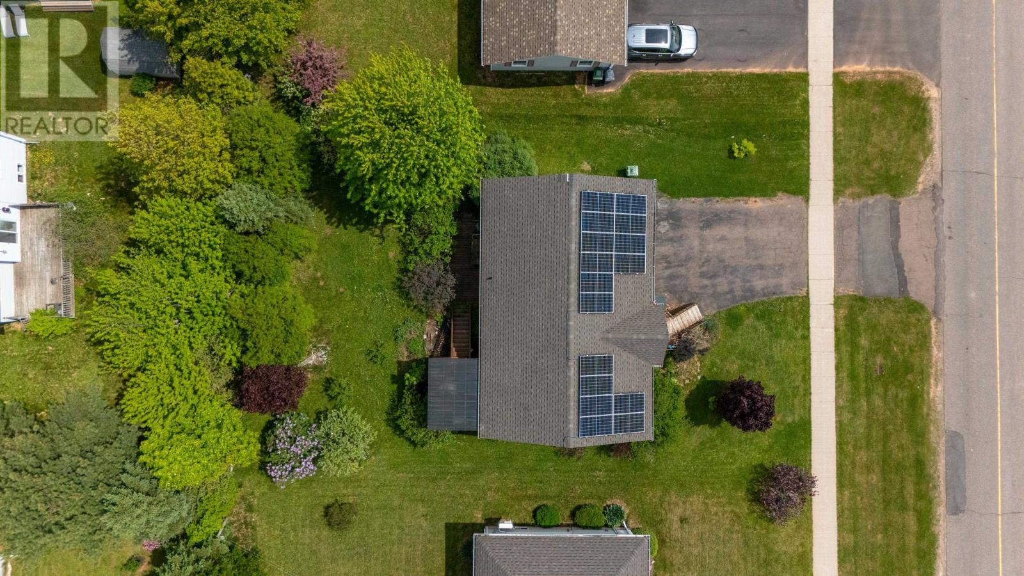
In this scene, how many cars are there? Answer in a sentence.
In total, 1 car can be seen.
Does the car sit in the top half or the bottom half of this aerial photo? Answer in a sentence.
The top half of the photo is where the car is.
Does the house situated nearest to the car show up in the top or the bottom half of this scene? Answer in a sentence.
The top half of the photo is where the house situated nearest to the car is.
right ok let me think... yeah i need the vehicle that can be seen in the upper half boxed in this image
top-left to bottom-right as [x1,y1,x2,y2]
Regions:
[628,19,698,62]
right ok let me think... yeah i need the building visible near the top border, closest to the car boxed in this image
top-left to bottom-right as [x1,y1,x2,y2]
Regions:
[480,0,628,78]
